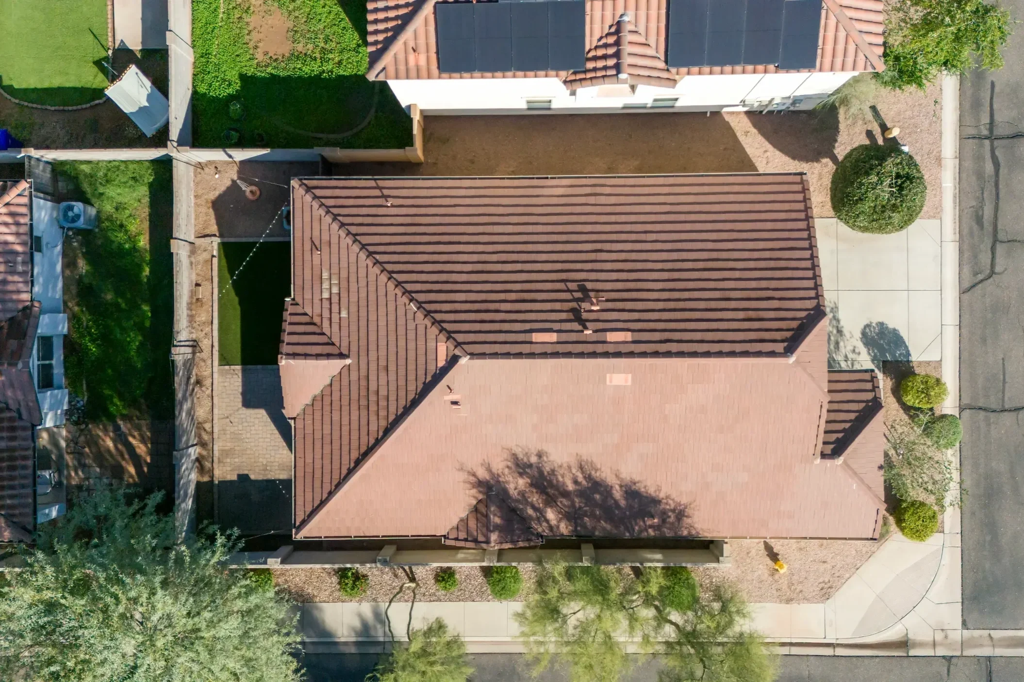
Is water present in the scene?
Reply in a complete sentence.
No, water can't be seen anywhere here.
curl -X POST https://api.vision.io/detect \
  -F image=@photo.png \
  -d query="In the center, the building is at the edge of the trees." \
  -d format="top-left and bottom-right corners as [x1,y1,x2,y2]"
[277,174,887,553]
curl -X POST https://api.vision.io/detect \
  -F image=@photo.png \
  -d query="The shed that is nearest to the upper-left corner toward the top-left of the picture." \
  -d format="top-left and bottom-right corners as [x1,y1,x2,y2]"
[100,62,168,138]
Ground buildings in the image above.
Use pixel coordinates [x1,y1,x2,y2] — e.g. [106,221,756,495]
[100,62,168,138]
[363,0,892,119]
[277,174,887,553]
[0,176,68,547]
